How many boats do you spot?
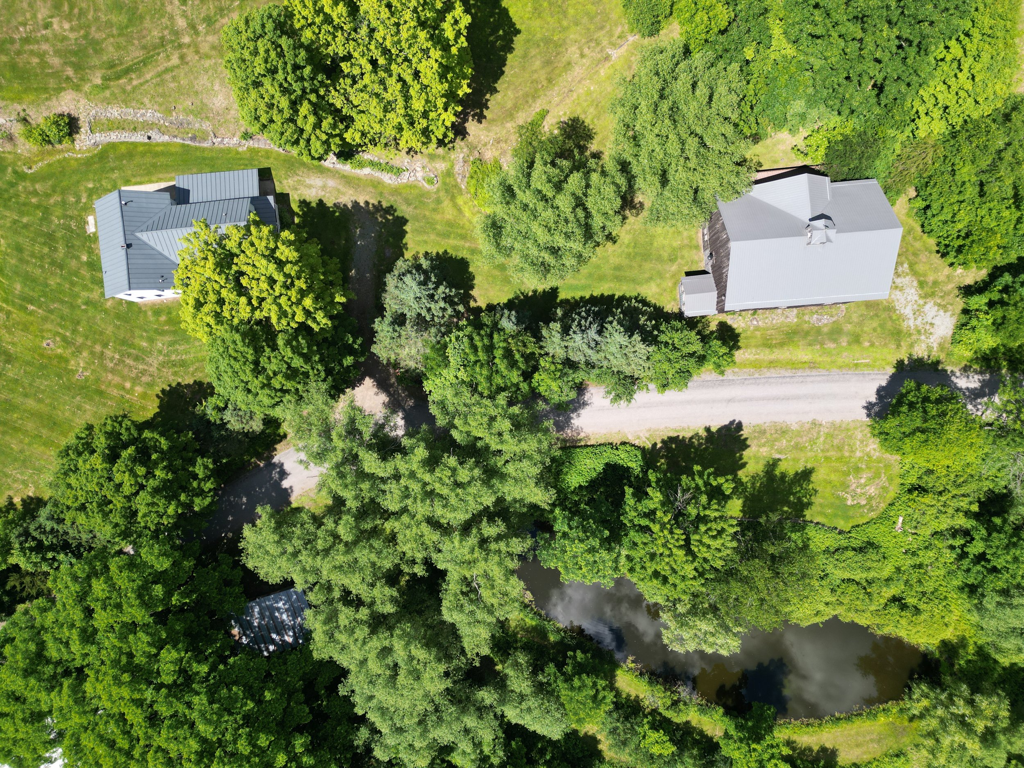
0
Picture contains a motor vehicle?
No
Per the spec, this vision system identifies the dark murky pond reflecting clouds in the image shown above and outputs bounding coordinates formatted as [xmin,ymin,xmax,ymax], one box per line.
[511,510,934,724]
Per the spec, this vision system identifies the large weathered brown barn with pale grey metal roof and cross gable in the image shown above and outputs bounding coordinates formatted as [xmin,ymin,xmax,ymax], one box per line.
[677,165,904,317]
